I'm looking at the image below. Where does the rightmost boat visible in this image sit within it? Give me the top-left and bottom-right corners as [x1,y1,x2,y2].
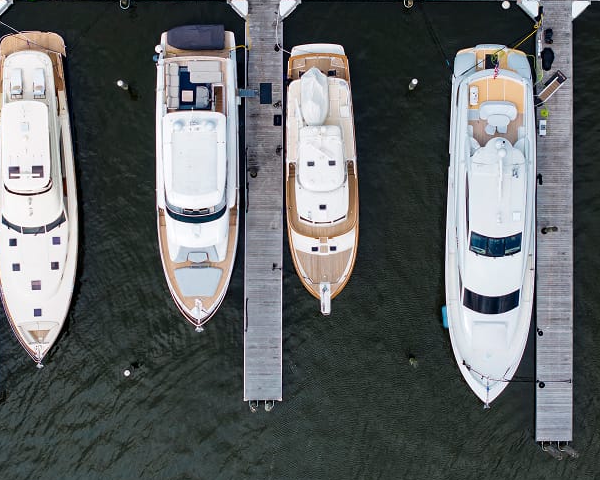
[444,45,538,412]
